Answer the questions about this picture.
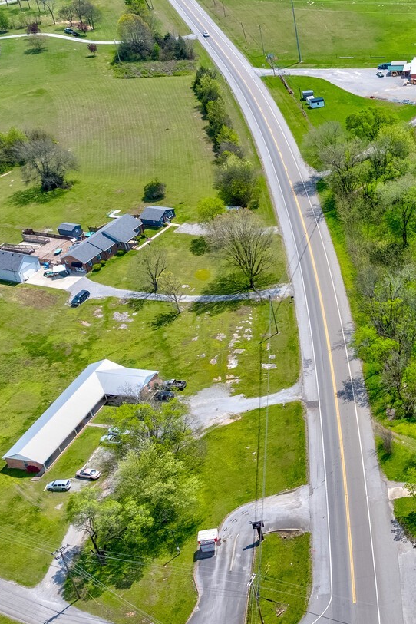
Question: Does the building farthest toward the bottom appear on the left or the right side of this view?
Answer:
left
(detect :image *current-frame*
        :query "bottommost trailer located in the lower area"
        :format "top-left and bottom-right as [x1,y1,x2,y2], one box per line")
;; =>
[189,523,219,552]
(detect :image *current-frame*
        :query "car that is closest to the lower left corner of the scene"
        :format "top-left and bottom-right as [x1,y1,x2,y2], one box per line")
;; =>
[42,478,72,491]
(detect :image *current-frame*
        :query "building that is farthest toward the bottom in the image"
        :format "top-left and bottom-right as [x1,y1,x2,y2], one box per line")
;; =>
[2,359,159,473]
